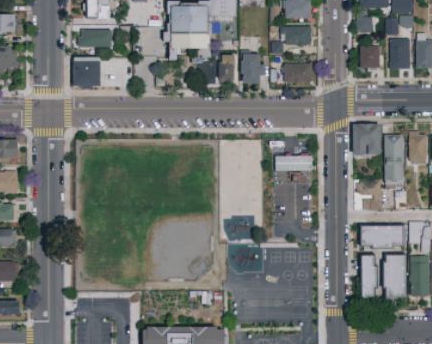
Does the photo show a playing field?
Yes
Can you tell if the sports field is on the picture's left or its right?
left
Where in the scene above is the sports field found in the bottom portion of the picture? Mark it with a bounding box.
[78,144,216,287]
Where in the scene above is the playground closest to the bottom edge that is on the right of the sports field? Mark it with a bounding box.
[228,244,263,273]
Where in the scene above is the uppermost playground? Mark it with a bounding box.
[224,216,254,240]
